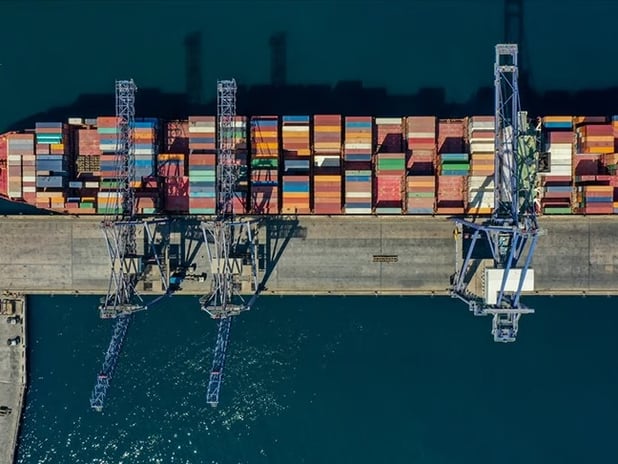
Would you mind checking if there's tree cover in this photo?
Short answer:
No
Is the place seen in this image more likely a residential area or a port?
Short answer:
port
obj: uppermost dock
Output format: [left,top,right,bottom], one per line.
[0,217,618,294]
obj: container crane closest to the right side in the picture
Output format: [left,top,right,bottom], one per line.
[448,45,546,345]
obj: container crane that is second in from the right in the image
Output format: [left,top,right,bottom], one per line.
[202,75,267,412]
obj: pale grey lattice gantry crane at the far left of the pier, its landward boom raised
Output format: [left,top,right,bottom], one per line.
[88,75,179,412]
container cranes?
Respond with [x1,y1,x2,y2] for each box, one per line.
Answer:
[202,75,267,412]
[448,45,546,345]
[88,75,179,412]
